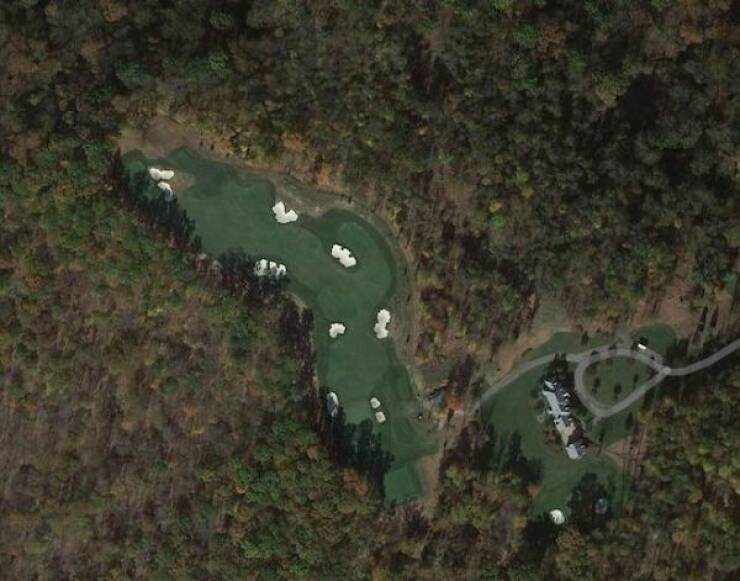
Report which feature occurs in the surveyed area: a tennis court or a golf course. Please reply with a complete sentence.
Looking from above, you can make out a golf course.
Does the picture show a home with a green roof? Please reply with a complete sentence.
No, I can see no home with a green roof in this picture.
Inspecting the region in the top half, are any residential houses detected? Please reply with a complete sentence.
No, I can find no residential house in the top half.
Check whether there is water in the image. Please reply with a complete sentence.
No, no water is visible.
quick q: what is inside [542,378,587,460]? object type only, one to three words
house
